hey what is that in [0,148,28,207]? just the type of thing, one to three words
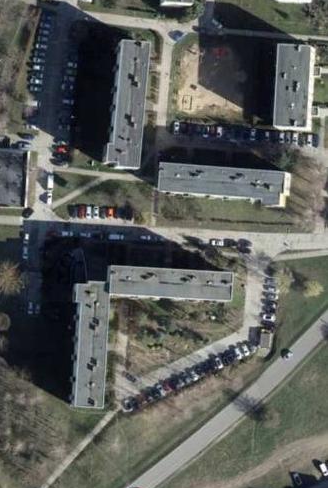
building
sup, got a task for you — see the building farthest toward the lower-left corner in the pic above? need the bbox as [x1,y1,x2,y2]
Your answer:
[72,283,113,410]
